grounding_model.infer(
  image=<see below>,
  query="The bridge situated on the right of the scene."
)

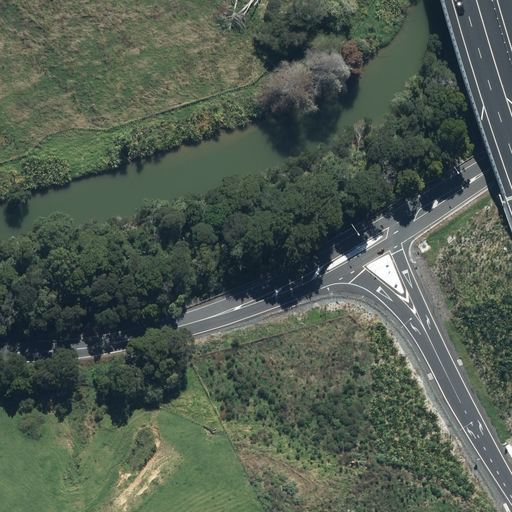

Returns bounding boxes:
[440,0,512,208]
